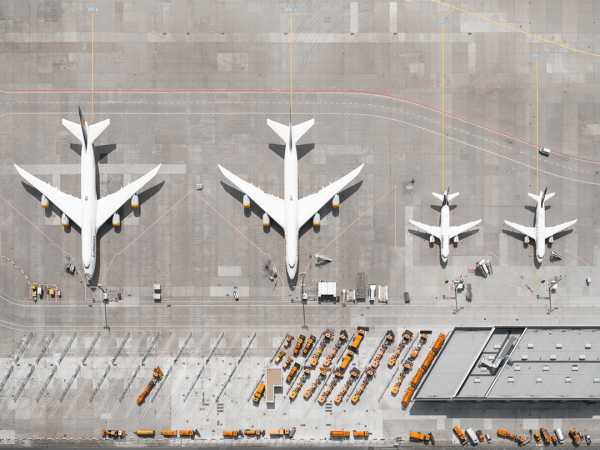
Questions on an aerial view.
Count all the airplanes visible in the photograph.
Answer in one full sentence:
The photo contains 4 airplanes.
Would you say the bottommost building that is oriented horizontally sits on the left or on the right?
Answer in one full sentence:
You can find the bottommost building that is oriented horizontally on the right side of the picture.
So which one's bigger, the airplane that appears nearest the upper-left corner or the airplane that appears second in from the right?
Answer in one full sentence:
Compared with the airplane that appears second in from the right, the airplane that appears nearest the upper-left corner is the bigger one.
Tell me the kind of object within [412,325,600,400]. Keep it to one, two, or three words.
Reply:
building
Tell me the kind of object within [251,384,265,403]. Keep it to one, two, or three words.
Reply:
vehicle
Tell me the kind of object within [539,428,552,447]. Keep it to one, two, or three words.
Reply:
vehicle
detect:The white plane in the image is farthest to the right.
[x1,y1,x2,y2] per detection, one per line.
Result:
[504,186,578,261]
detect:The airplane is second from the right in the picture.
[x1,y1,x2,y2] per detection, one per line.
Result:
[409,188,482,261]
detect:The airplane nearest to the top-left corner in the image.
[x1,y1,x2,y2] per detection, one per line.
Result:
[15,105,161,279]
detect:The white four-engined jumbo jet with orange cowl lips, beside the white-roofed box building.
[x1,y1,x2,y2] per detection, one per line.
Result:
[218,108,363,279]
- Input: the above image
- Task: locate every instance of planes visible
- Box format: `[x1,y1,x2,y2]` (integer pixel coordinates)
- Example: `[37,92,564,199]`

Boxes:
[504,186,578,261]
[15,105,161,279]
[218,108,363,279]
[409,188,482,261]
